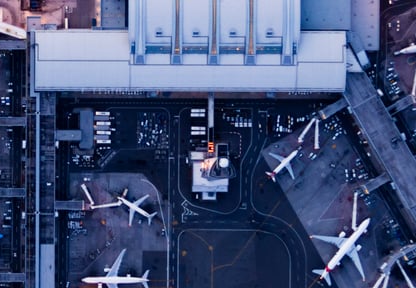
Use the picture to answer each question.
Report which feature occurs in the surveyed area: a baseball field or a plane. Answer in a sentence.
The one in the frame is a plane.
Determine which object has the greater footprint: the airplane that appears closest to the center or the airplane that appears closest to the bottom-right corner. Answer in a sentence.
The airplane that appears closest to the center is smaller than the airplane that appears closest to the bottom-right corner.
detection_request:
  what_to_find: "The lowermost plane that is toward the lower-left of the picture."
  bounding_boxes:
[81,248,146,288]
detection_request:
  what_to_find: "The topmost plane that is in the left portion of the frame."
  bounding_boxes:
[119,193,153,226]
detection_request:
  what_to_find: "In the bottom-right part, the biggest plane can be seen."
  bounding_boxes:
[312,218,370,281]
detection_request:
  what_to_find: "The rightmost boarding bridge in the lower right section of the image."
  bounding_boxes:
[397,259,414,288]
